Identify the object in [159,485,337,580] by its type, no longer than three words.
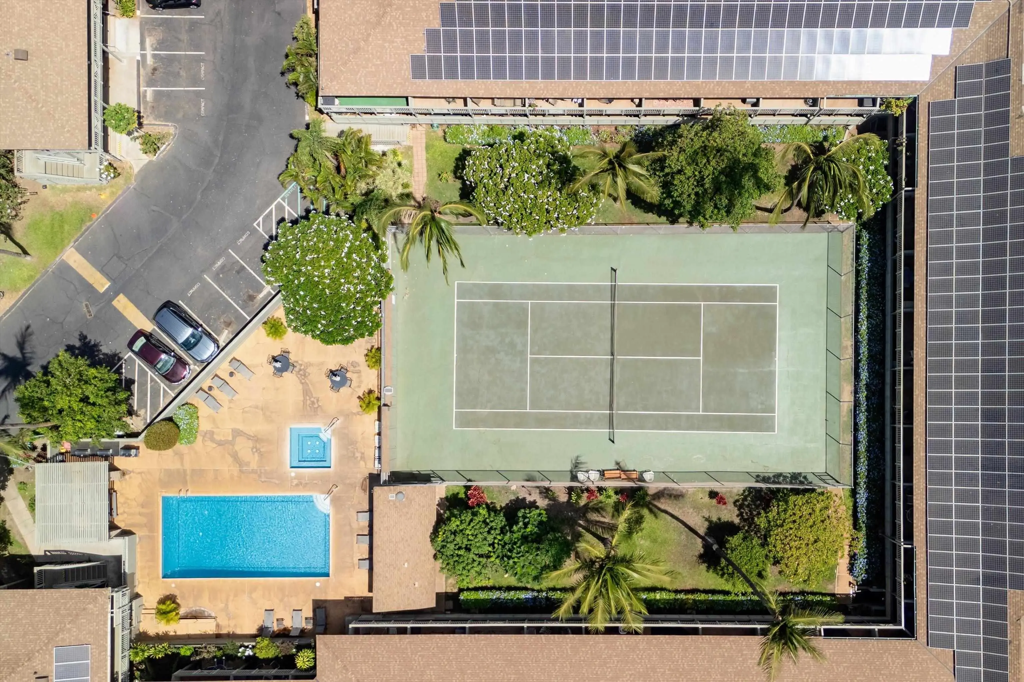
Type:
swimming pool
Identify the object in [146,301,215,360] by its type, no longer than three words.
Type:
car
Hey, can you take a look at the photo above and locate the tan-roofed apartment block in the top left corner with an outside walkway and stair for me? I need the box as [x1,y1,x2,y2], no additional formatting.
[0,0,127,186]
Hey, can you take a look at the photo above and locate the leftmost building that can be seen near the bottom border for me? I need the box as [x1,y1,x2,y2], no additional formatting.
[0,560,135,682]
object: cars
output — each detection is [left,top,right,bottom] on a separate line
[121,328,187,383]
[146,301,215,360]
[143,0,201,10]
